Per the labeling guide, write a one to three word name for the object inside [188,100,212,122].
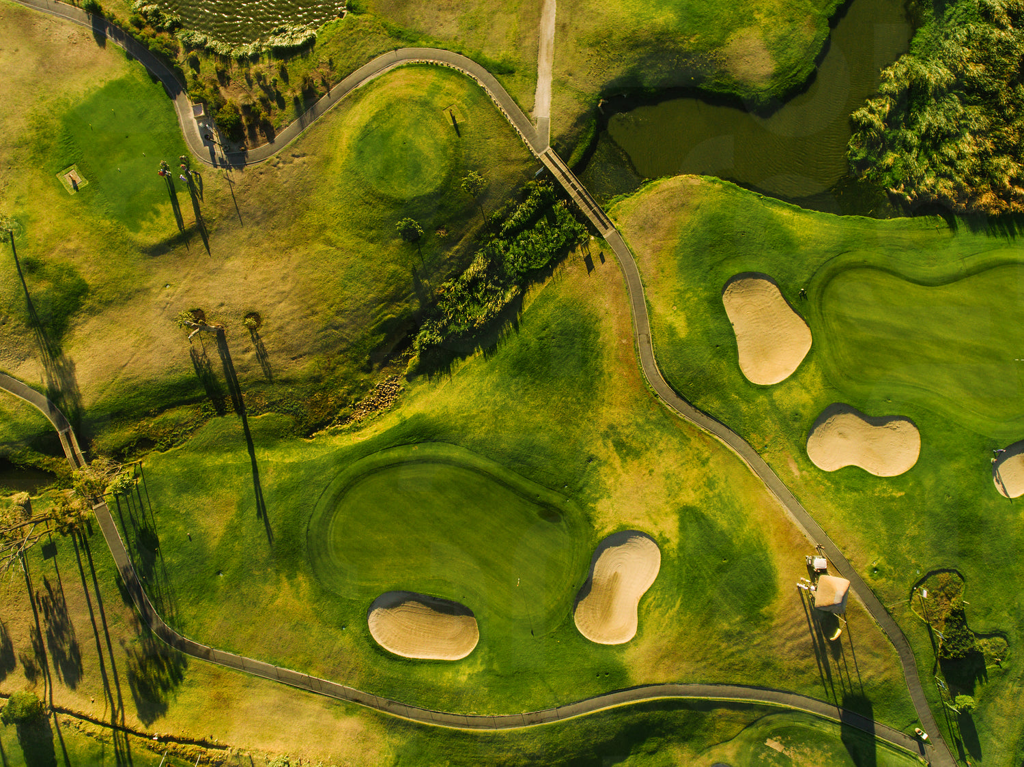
shed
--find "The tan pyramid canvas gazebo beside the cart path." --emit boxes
[803,568,856,614]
